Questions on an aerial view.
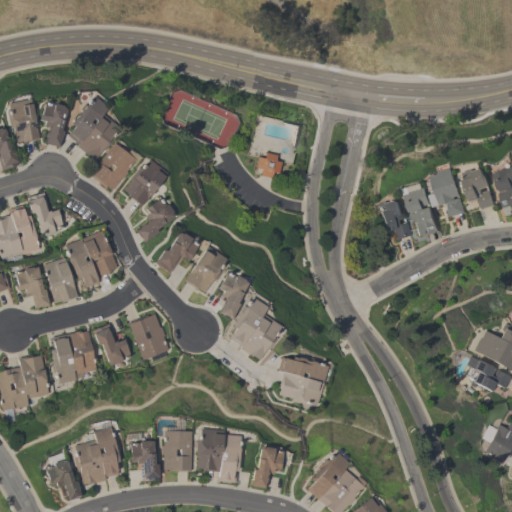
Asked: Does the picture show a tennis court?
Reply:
Yes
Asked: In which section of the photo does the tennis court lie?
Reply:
top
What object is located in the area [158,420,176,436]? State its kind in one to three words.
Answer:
swimming pool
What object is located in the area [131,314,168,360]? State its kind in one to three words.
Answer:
house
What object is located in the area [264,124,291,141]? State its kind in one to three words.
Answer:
swimming pool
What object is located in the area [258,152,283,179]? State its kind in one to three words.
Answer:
building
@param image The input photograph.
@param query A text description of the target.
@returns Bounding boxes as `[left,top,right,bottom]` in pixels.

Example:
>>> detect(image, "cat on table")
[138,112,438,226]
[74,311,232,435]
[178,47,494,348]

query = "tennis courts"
[166,90,240,148]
